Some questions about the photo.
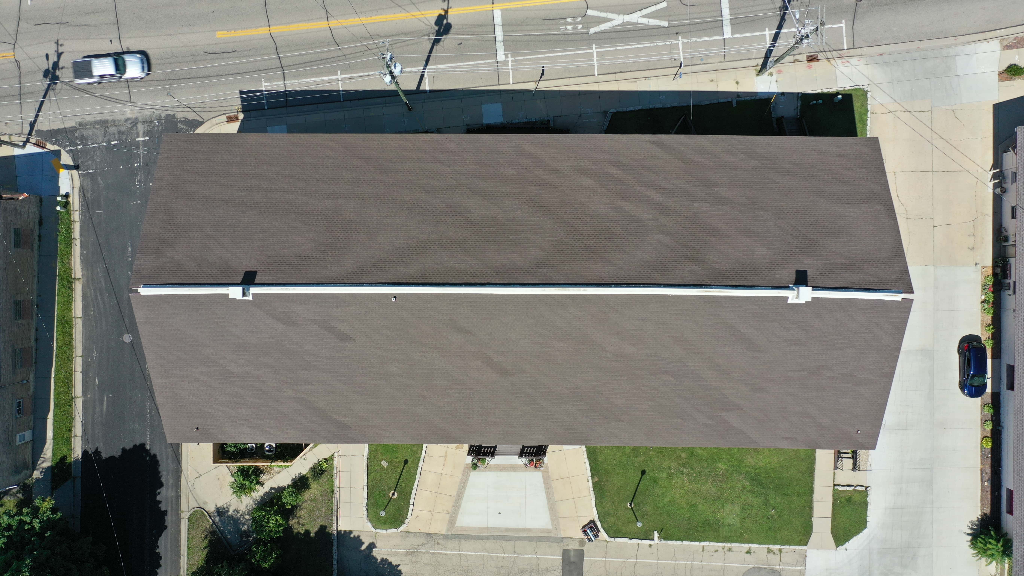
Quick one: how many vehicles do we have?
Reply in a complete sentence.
The count of vehicles comes to 2.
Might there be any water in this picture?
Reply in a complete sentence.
No, there is no water in the image.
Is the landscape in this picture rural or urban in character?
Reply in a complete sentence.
The area is urban.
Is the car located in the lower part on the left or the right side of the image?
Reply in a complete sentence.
It is on the right.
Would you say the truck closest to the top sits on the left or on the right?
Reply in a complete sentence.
It is on the left.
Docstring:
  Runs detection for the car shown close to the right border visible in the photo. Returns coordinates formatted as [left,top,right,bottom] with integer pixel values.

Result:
[957,342,991,397]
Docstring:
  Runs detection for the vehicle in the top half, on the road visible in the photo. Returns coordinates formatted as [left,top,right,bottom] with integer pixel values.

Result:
[71,49,151,86]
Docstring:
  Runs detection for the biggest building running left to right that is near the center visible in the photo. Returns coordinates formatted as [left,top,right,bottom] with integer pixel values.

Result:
[129,133,914,450]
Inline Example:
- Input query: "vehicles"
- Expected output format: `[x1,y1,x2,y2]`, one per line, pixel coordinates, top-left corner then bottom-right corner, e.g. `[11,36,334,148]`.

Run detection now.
[71,49,151,86]
[957,342,991,397]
